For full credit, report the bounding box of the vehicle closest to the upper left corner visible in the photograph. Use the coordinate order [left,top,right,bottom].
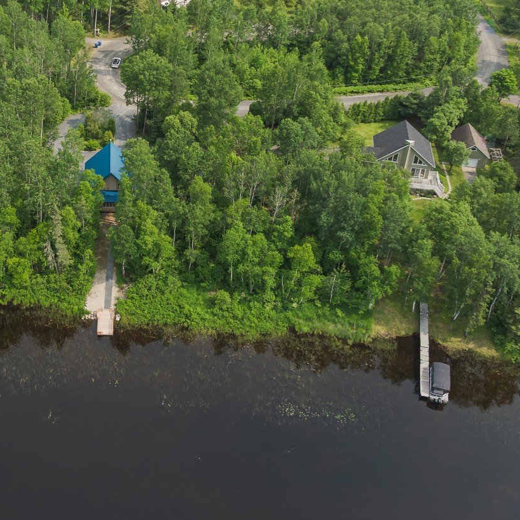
[109,56,122,69]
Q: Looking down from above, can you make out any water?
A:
Yes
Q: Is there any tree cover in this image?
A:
Yes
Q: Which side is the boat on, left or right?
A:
right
